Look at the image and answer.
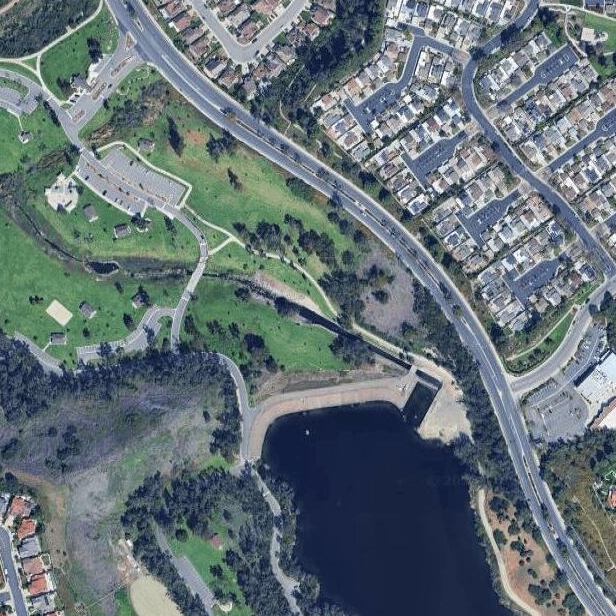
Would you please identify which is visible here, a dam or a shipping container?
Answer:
dam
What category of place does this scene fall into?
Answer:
residential area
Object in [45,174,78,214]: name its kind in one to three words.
playground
